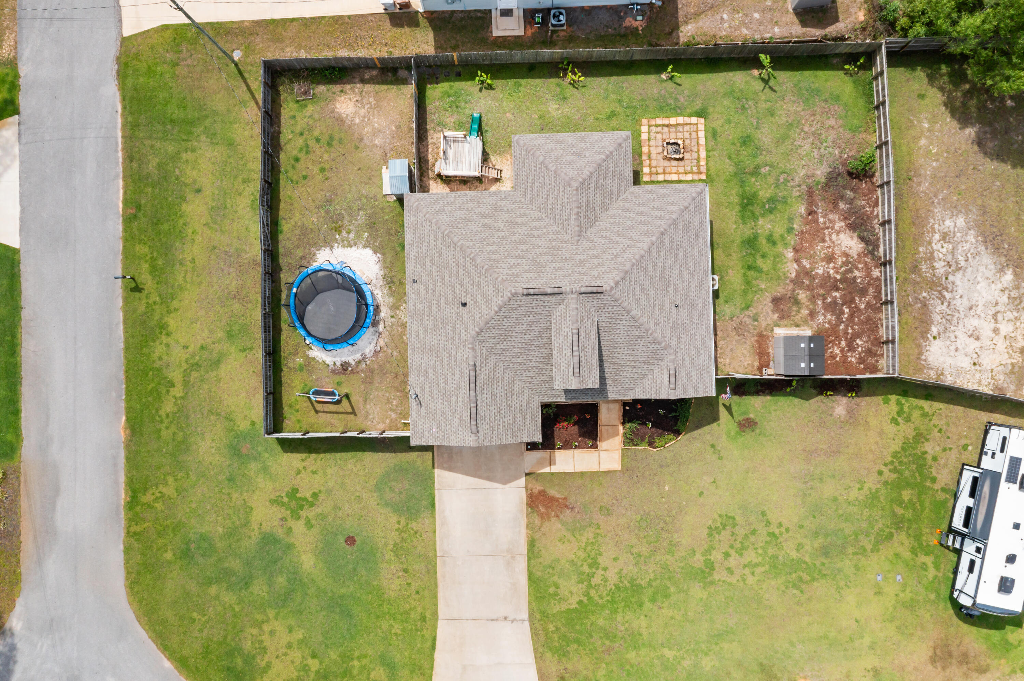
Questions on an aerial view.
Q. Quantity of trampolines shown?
1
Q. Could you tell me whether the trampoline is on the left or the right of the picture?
left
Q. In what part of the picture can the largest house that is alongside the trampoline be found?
center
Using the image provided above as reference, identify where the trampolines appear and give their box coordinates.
[280,260,379,351]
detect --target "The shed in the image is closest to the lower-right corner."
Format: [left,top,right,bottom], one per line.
[774,336,824,375]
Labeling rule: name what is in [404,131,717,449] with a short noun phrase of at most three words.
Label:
house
